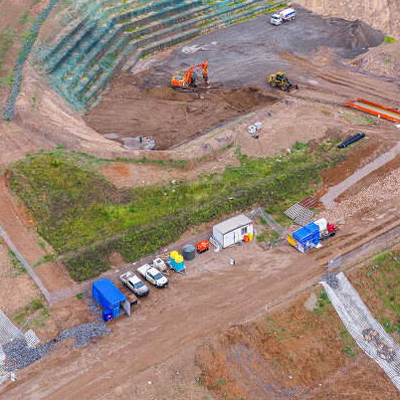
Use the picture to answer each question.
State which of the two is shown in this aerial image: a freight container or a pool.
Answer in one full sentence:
Visible in the photo is a freight container.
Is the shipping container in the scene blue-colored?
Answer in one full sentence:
Yes, the shipping container is indeed blue.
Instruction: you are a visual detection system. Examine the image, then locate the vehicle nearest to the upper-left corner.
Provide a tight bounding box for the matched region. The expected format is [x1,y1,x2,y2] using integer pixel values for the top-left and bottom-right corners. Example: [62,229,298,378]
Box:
[168,67,205,94]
